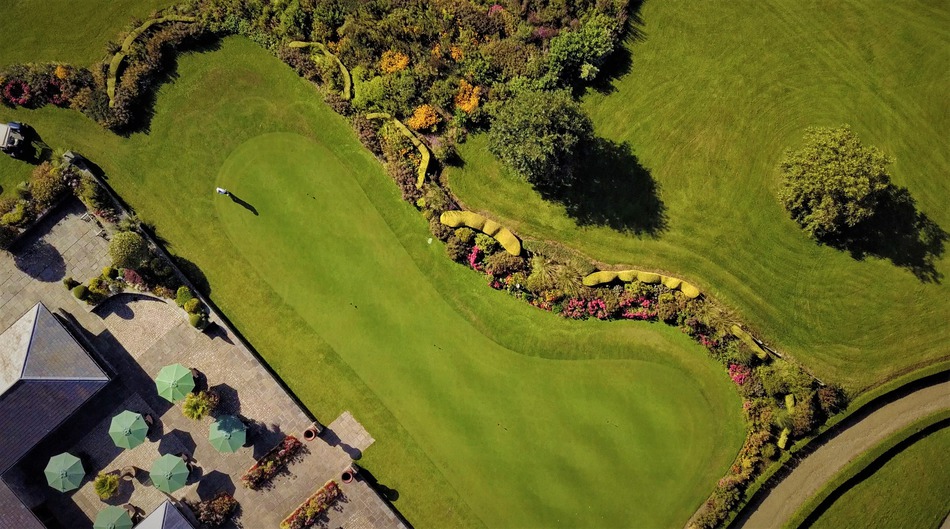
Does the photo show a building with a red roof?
No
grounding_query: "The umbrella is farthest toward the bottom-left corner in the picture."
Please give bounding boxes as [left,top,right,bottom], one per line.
[49,453,91,489]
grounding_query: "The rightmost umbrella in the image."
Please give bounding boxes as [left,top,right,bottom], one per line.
[211,415,250,453]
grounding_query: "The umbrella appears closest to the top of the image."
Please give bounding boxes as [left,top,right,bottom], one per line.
[158,362,197,400]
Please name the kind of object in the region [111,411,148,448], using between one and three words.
umbrella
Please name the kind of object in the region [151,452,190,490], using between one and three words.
umbrella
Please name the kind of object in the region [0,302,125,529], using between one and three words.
building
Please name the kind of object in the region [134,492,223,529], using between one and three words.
building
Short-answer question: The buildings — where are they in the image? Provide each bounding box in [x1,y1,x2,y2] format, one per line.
[134,492,223,529]
[0,302,125,529]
